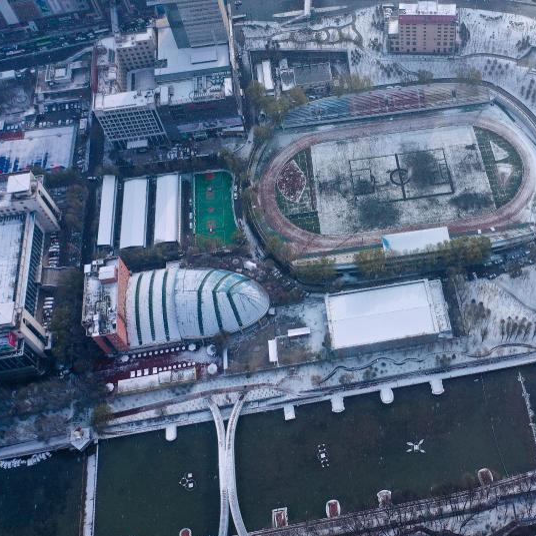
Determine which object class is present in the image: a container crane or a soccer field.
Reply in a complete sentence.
Visible in the photo is a soccer field.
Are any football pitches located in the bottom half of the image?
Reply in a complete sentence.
No, there is no football pitch in the bottom half of the image.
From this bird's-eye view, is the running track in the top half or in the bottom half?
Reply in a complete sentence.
The running track is in the top half of the image.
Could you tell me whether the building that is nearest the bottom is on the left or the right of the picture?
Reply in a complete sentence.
It is on the left.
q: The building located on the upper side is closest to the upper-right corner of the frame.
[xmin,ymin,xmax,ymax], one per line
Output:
[398,0,458,52]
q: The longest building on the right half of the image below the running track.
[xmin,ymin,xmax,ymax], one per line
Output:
[325,279,452,358]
